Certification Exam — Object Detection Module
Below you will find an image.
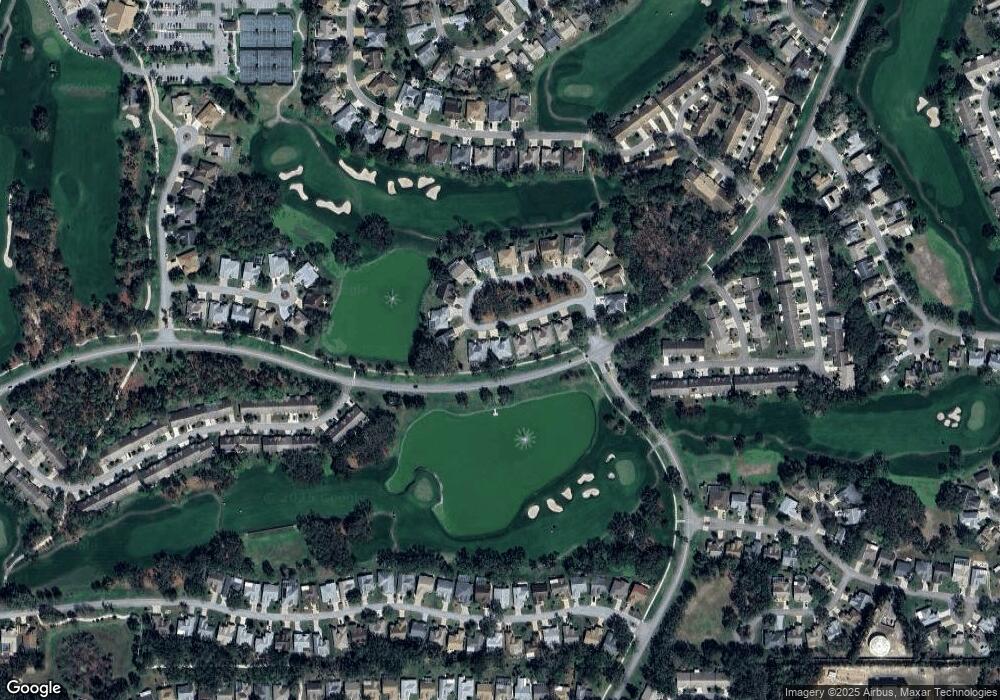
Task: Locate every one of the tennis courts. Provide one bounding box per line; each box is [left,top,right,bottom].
[275,15,293,48]
[258,49,275,83]
[275,49,293,83]
[240,15,258,48]
[240,49,258,83]
[258,15,275,48]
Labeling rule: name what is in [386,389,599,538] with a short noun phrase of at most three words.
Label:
pond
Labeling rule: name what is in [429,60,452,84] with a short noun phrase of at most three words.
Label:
house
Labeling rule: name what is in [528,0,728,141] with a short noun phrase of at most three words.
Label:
golf course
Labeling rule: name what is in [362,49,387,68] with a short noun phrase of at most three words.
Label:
house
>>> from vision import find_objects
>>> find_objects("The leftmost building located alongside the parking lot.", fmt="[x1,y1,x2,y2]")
[103,0,140,35]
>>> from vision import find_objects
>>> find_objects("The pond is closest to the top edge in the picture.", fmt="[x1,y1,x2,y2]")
[322,246,432,362]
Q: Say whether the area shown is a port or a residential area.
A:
residential area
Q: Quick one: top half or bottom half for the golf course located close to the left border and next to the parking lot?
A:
top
